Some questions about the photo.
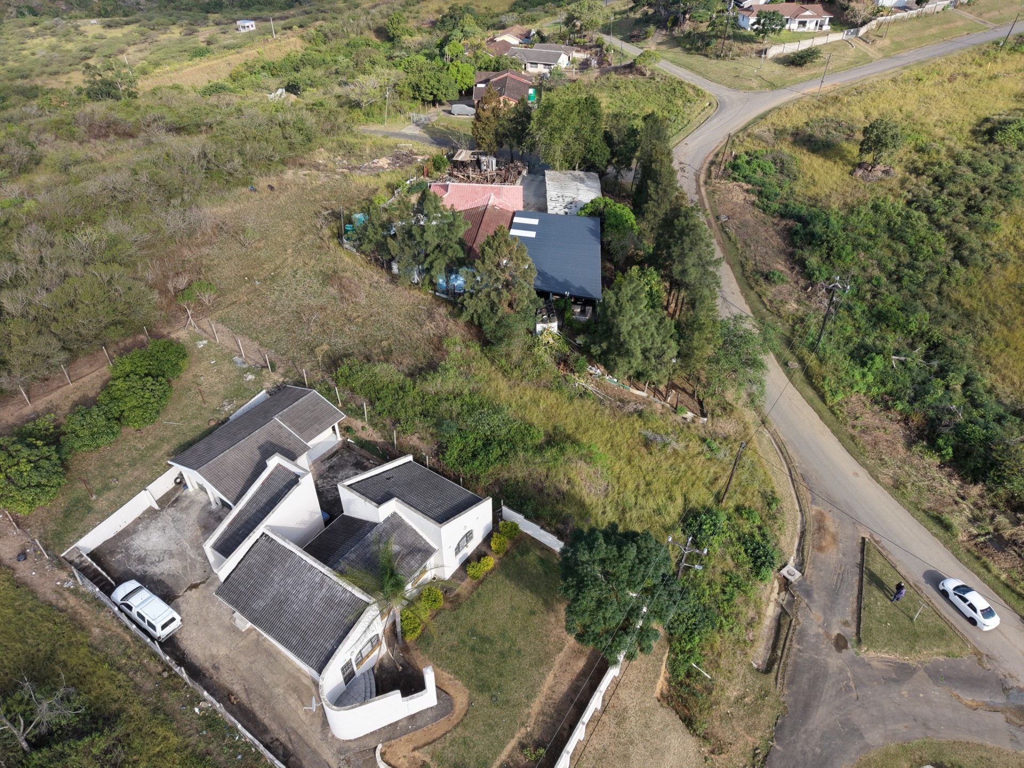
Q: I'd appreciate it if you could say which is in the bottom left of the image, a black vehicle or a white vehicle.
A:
white vehicle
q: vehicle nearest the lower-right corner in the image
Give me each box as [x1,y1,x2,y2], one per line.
[937,576,1003,631]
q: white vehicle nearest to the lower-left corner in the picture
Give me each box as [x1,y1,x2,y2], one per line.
[108,583,181,641]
